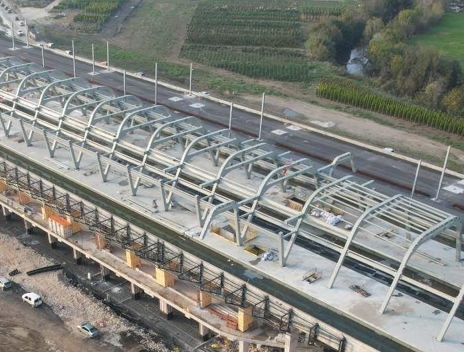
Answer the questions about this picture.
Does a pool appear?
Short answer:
No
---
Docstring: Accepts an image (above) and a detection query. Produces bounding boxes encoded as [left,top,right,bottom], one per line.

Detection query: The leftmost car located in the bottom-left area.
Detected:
[0,277,13,292]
